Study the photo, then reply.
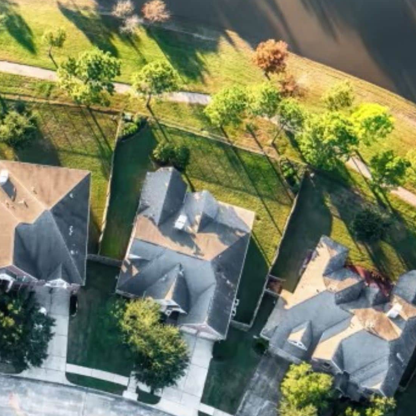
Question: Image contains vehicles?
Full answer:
No, no vehicle is visible in the scene.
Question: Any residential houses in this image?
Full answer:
Yes, the image includes a residential house.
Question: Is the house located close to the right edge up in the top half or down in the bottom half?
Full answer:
Seen from above, the house located close to the right edge lies in the bottom half of the view.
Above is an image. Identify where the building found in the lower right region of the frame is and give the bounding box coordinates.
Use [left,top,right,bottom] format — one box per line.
[259,235,416,406]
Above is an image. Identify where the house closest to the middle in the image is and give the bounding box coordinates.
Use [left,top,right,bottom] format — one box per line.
[116,167,255,346]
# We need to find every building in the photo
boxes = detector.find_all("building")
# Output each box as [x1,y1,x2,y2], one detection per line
[0,160,91,295]
[116,167,255,346]
[259,235,416,406]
